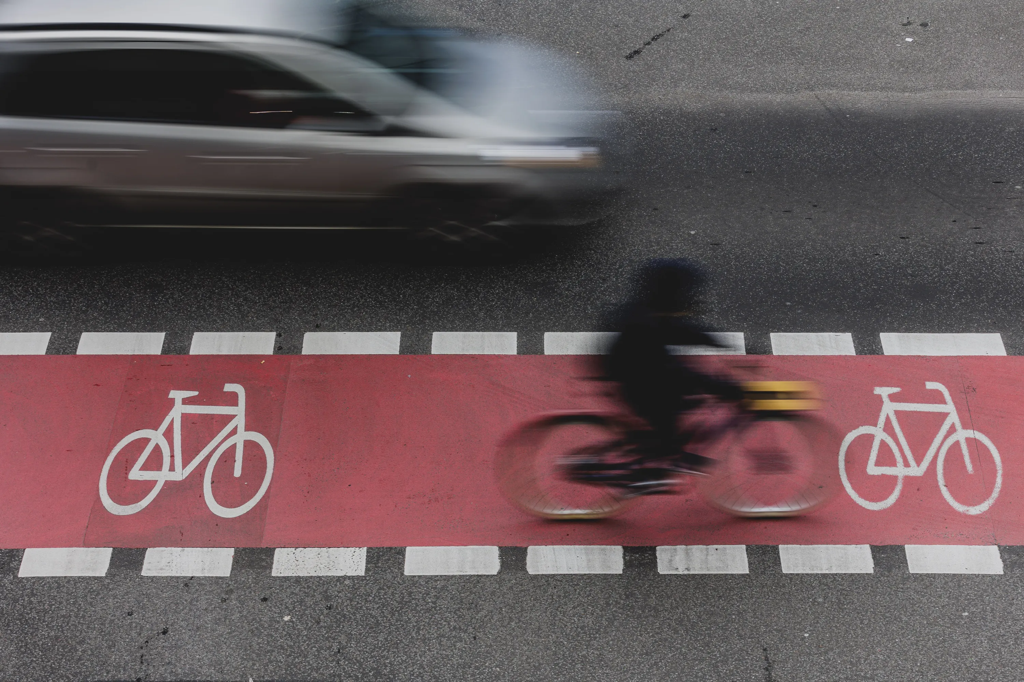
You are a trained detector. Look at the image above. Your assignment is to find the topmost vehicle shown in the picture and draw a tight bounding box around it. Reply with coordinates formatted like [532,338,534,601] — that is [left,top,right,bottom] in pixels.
[0,0,605,268]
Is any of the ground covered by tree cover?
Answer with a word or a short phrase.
No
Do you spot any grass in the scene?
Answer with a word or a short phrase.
No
